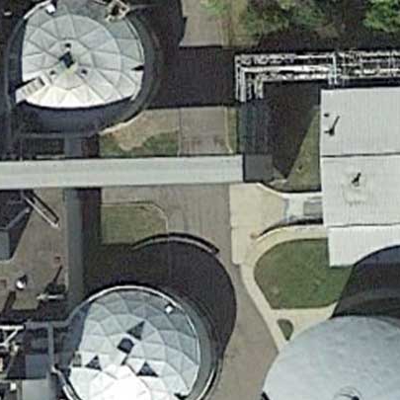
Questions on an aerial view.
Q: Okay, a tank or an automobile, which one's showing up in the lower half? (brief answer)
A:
tank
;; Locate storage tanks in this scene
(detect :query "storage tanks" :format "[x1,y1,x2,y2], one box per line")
[63,285,217,400]
[261,314,400,400]
[3,0,168,137]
